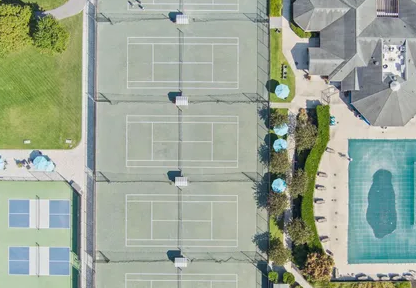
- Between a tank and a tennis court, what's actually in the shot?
tennis court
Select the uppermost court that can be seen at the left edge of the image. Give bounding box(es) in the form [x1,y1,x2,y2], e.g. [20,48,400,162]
[0,181,81,236]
